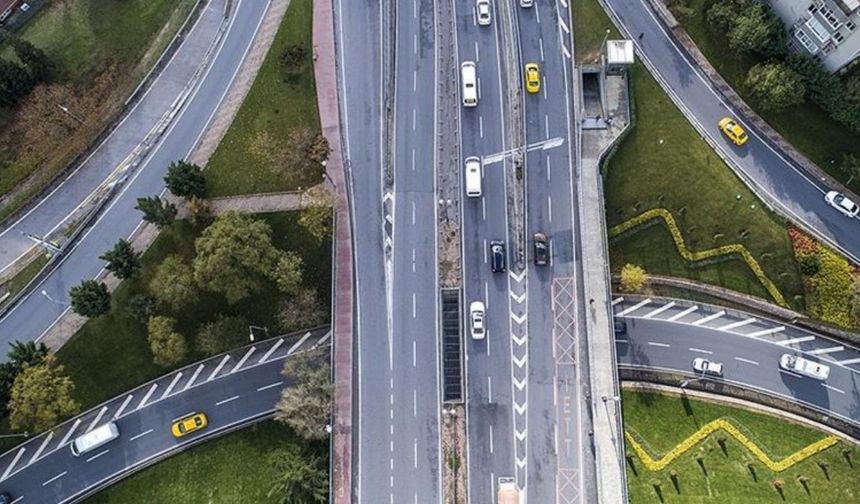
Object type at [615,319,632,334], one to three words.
car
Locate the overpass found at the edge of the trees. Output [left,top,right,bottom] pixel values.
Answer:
[311,0,627,504]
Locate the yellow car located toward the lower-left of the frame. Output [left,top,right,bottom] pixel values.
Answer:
[173,412,207,435]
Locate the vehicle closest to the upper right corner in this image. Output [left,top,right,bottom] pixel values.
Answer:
[718,118,747,146]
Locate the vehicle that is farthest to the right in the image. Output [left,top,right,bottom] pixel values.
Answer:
[824,193,857,218]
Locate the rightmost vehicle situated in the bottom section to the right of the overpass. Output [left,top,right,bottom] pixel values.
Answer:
[773,354,831,381]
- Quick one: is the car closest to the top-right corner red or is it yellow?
yellow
